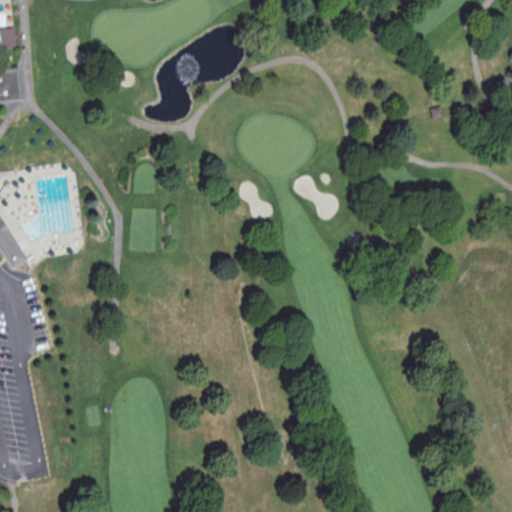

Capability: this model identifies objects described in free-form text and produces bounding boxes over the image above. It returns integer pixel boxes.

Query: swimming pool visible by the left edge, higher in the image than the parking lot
[0,164,84,270]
